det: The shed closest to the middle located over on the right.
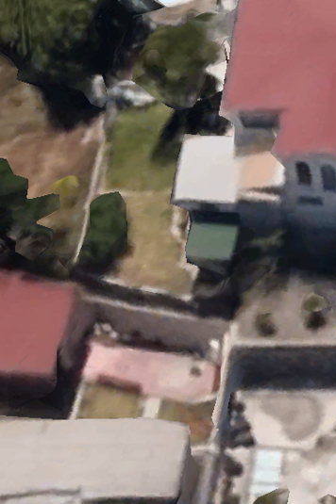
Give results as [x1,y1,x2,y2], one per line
[187,224,242,274]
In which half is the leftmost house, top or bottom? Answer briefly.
bottom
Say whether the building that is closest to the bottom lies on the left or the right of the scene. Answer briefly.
left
